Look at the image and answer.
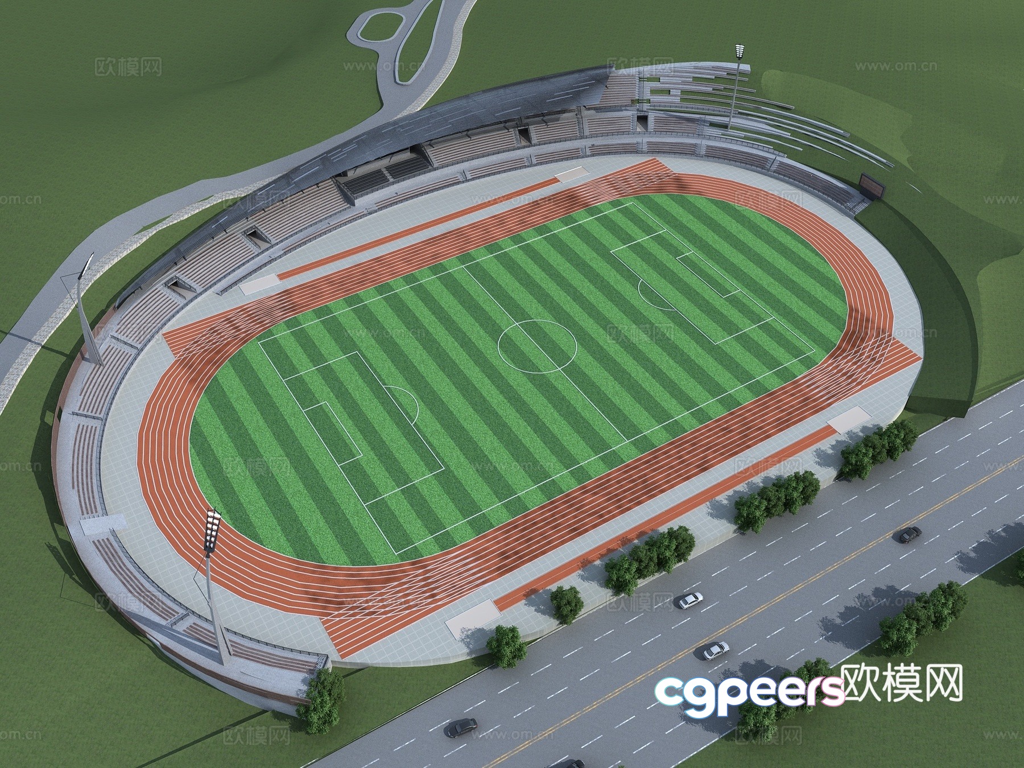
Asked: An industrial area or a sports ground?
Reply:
sports ground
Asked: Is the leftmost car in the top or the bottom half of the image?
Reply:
bottom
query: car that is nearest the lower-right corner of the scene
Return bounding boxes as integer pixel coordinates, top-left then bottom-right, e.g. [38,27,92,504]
[900,527,926,545]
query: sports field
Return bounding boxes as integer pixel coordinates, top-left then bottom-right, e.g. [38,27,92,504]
[190,195,847,566]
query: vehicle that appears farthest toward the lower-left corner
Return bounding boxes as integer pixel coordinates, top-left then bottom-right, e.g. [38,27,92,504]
[444,719,477,742]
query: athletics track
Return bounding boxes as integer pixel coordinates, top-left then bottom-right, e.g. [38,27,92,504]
[137,173,893,614]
